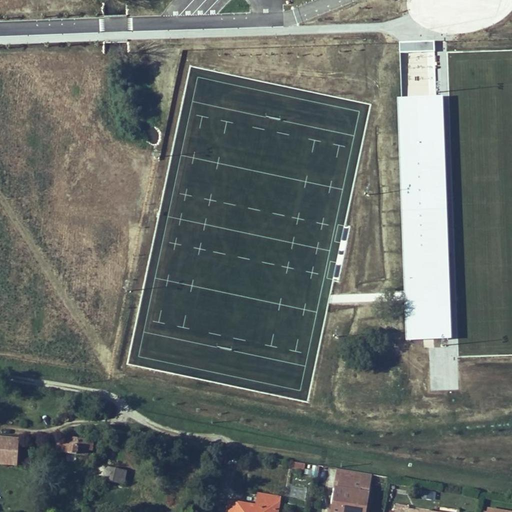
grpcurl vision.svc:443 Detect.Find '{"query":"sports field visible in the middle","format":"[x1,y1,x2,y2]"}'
[127,66,372,402]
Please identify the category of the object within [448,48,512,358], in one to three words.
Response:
soccer field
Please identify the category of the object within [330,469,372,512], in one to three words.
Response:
house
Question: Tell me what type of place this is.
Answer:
sports ground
